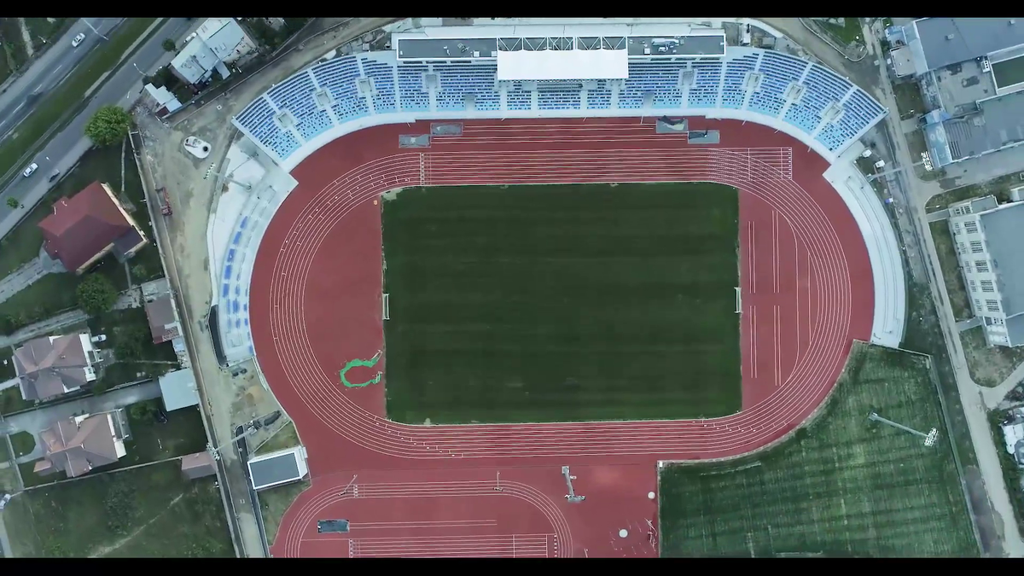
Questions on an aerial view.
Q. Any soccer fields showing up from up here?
Yes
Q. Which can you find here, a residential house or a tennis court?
residential house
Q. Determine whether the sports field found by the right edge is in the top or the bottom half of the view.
bottom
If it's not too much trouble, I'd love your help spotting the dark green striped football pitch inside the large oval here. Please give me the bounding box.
[380,182,743,425]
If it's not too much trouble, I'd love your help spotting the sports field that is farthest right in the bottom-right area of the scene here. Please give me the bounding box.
[659,342,983,576]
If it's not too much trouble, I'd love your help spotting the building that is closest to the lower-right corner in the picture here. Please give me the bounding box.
[995,421,1024,465]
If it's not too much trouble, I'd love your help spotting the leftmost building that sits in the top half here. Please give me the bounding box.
[38,181,153,274]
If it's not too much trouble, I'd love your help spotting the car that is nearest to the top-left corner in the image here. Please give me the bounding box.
[71,32,84,45]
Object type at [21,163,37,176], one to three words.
vehicle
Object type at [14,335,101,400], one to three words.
house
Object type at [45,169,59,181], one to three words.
vehicle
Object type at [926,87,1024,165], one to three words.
building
